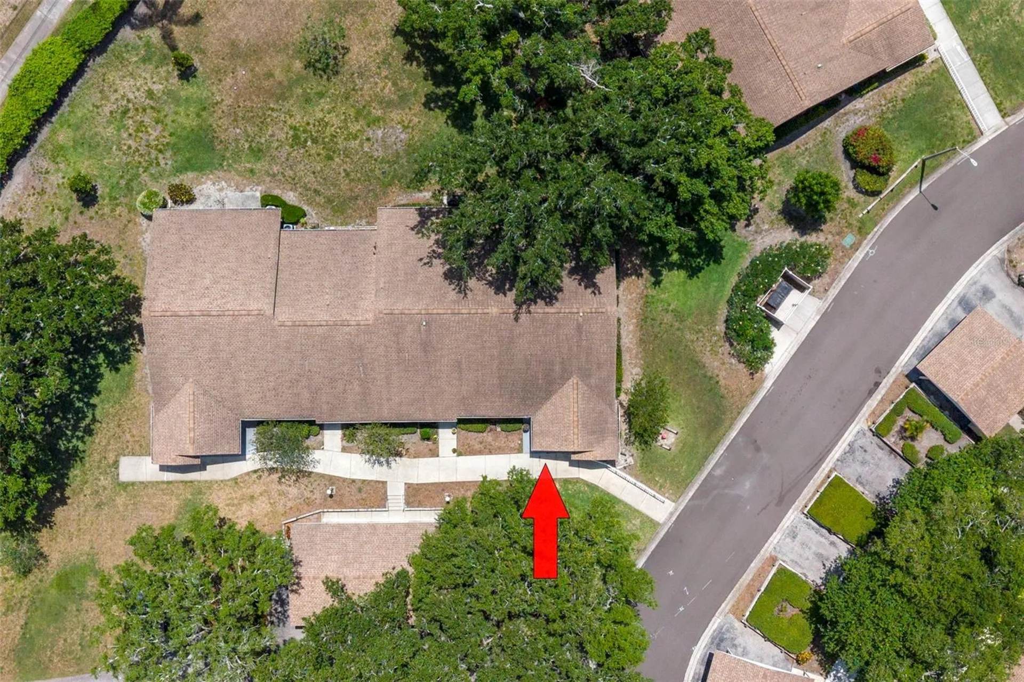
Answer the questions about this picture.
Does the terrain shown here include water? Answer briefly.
No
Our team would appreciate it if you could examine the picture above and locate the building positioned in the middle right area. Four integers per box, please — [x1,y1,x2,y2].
[915,306,1024,439]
